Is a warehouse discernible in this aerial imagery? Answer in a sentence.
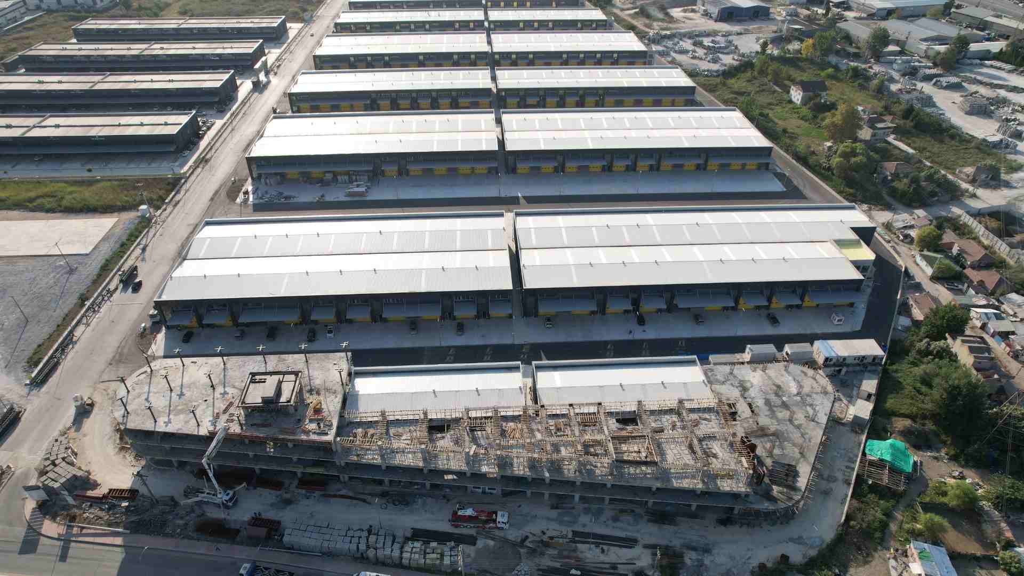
Yes, the picture does show a warehouse.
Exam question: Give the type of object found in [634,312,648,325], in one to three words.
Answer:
vehicle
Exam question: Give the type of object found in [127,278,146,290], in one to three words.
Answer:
vehicle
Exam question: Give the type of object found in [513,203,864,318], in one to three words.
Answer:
warehouse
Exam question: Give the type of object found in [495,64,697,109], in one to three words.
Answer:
building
